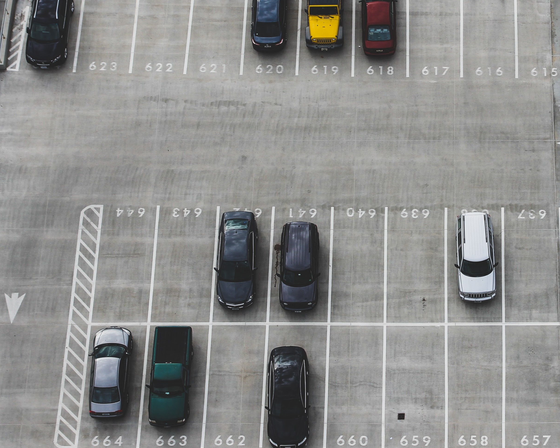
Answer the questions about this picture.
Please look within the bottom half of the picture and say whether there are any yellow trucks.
No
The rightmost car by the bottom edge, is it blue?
No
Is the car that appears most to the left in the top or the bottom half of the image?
top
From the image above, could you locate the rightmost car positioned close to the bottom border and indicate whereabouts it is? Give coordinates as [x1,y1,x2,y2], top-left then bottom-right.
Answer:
[262,345,312,448]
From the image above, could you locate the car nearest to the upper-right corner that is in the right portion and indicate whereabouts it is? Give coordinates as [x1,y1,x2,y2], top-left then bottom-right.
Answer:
[362,0,397,56]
